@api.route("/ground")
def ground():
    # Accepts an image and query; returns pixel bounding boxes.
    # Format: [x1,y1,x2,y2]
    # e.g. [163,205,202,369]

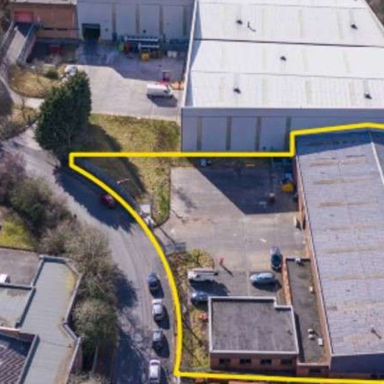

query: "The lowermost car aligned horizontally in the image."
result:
[184,288,215,303]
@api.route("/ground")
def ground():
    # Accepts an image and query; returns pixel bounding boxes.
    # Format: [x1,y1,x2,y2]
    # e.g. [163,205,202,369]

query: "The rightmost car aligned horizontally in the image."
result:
[247,270,278,284]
